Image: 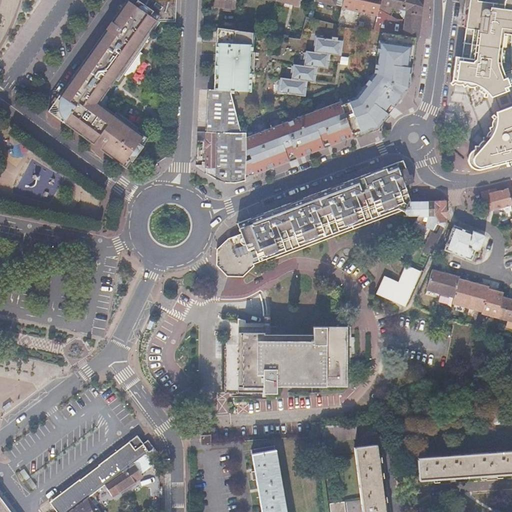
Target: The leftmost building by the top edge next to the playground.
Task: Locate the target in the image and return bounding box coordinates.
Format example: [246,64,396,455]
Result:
[48,1,160,169]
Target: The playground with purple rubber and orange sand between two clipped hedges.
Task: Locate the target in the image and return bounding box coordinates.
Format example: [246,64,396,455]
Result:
[0,130,102,214]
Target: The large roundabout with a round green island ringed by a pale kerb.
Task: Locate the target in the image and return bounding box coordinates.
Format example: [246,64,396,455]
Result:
[128,184,212,267]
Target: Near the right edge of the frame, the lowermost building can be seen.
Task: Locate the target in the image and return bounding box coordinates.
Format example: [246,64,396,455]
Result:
[418,452,512,483]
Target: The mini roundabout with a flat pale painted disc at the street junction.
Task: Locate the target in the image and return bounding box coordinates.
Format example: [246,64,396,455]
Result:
[394,115,436,157]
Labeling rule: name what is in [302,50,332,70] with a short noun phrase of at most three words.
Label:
house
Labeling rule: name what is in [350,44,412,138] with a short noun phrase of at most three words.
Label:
building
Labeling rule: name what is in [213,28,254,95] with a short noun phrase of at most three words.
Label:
building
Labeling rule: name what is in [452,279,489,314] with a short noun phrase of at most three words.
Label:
house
